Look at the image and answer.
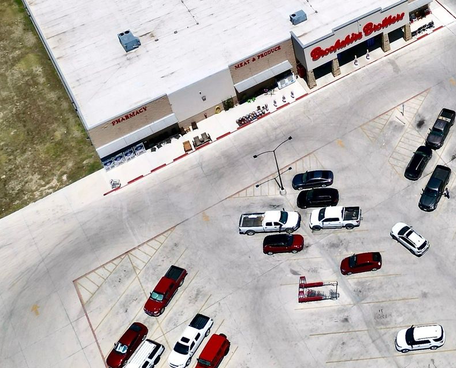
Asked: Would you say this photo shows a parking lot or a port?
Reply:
parking lot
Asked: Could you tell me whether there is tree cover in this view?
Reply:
No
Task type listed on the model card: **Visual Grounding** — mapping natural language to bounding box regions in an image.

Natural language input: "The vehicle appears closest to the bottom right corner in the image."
[394,324,447,356]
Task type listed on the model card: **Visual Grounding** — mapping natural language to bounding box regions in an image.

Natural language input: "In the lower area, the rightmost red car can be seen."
[340,251,385,279]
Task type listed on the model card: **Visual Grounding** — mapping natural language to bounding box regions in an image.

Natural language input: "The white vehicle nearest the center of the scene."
[236,208,301,238]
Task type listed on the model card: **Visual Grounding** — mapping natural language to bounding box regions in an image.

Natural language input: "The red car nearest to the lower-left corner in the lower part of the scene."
[106,323,151,368]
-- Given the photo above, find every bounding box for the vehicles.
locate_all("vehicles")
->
[308,207,361,233]
[292,172,334,193]
[394,324,447,356]
[428,109,455,150]
[340,251,385,279]
[261,233,306,259]
[420,166,450,212]
[404,147,431,183]
[392,225,430,259]
[236,208,301,238]
[195,334,229,368]
[125,338,164,368]
[296,186,341,212]
[146,266,187,319]
[106,323,151,368]
[168,313,214,368]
